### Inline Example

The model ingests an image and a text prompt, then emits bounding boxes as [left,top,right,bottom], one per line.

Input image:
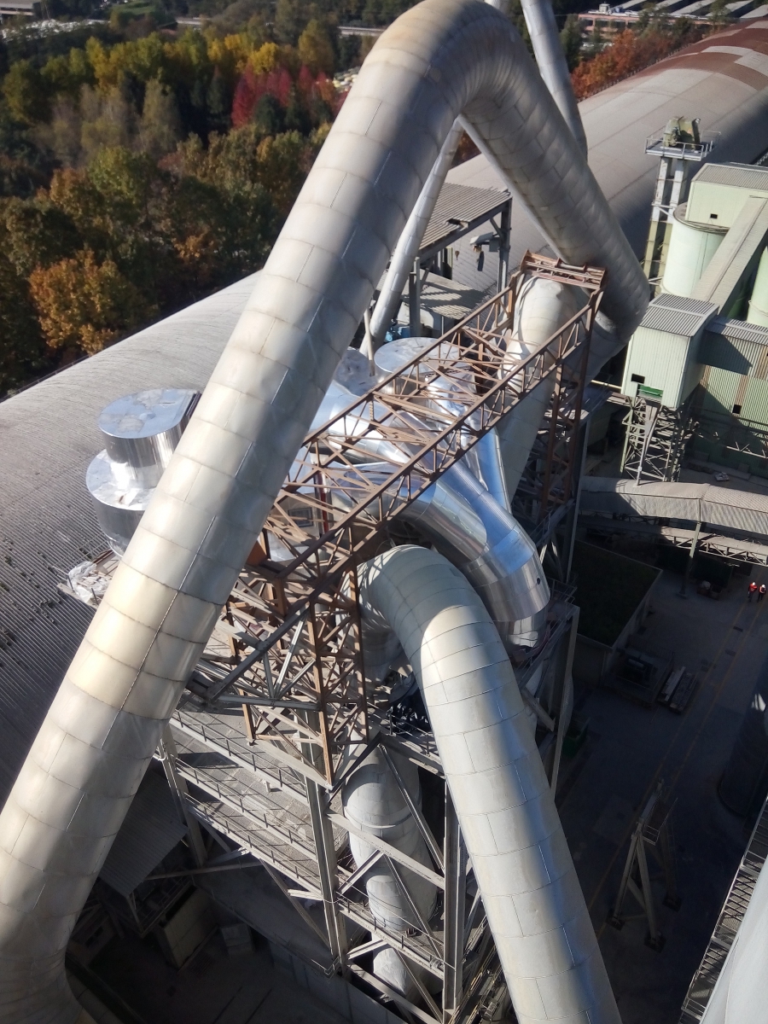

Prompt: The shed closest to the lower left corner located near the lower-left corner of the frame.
[70,902,122,978]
